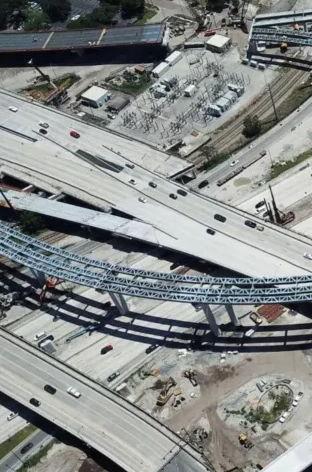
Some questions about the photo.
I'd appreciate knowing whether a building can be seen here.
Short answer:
Yes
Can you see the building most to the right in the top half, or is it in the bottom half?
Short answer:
top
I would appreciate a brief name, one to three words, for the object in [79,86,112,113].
building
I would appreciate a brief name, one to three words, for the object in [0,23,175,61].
bridge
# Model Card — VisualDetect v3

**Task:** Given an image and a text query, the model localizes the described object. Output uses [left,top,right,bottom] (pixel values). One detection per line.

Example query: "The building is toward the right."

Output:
[205,33,233,54]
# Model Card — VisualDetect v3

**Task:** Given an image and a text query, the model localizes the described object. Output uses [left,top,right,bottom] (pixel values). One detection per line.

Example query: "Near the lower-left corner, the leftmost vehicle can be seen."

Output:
[2,409,20,422]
